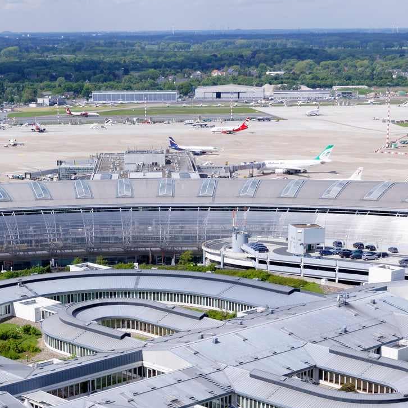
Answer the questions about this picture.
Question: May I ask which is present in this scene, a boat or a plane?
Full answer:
The one in the frame is a plane.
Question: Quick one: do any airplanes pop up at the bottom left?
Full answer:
No, I see no airplane at the bottom left.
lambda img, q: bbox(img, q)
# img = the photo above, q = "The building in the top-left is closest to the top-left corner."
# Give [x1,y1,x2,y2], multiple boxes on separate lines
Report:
[37,98,65,115]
